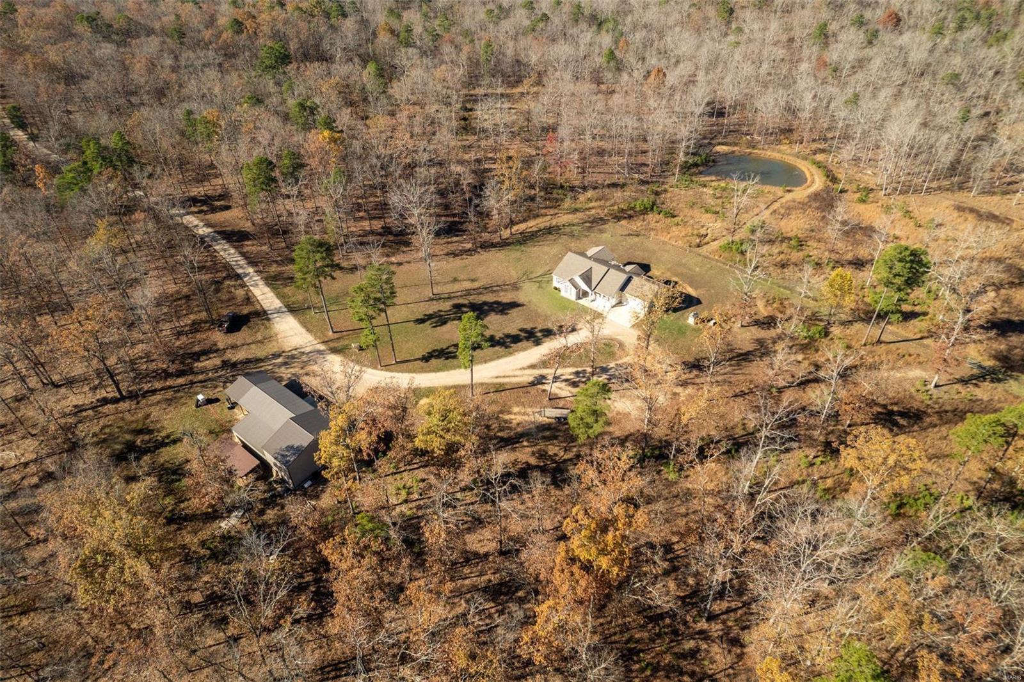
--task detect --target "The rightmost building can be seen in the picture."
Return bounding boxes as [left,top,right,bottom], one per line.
[551,246,680,316]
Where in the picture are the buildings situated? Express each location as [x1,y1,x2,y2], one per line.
[551,246,680,316]
[222,370,344,487]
